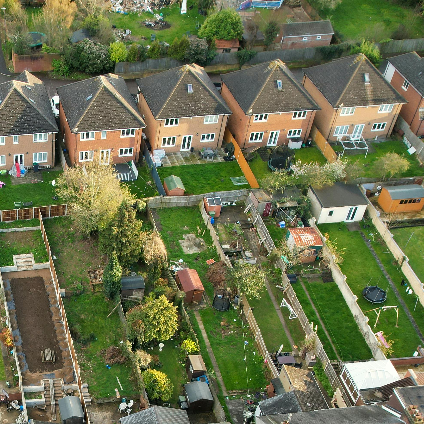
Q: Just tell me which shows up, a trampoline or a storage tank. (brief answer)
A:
trampoline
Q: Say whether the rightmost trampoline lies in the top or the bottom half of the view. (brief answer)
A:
bottom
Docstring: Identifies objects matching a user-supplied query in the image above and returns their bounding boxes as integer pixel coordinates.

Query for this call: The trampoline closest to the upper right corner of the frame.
[265,138,298,169]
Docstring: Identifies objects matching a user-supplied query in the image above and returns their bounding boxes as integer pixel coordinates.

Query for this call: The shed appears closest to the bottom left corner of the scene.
[55,389,86,424]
